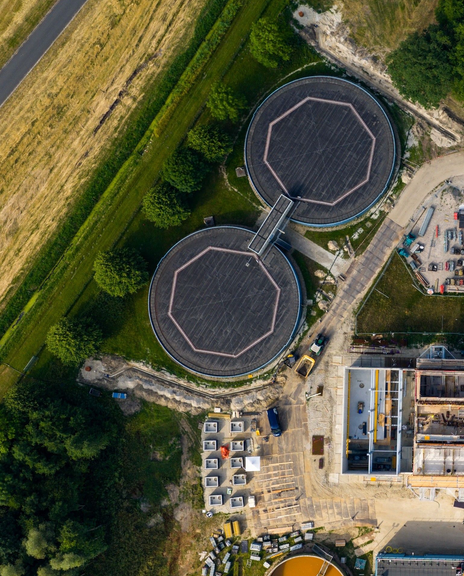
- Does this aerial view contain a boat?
No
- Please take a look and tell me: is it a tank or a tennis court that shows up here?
tank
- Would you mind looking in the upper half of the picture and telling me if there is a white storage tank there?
No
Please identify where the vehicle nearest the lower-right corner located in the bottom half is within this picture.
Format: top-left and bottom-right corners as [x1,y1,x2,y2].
[266,406,283,436]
